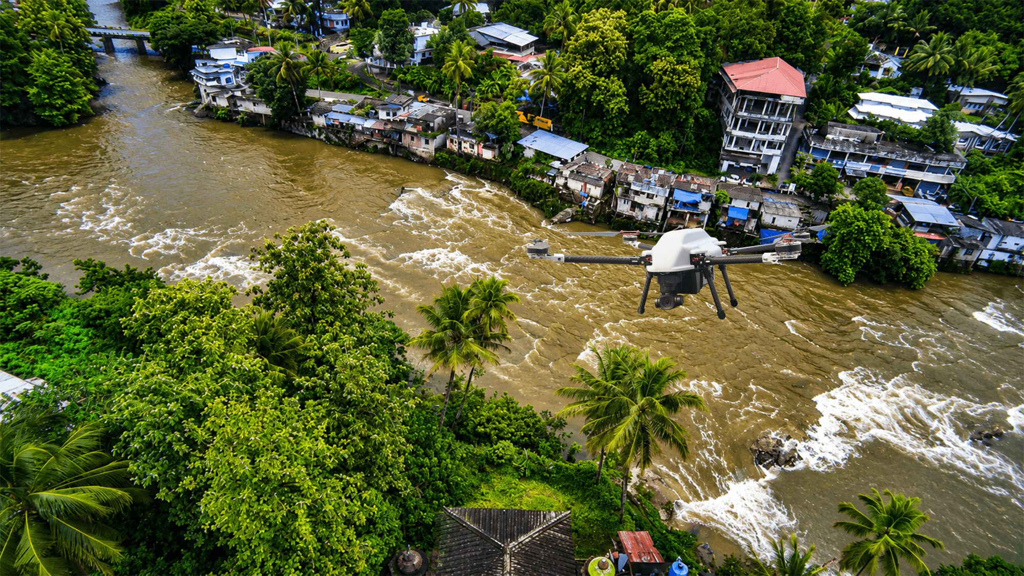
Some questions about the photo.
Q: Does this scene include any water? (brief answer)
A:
Yes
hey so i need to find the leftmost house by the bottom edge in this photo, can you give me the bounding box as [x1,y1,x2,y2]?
[435,506,573,576]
